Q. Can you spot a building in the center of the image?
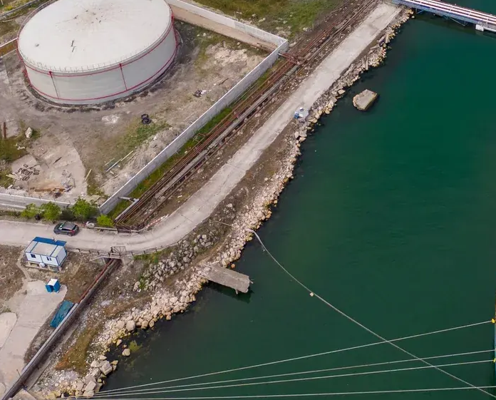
No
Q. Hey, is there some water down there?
Yes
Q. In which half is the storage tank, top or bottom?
top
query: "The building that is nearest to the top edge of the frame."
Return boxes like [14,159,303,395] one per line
[23,237,69,270]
